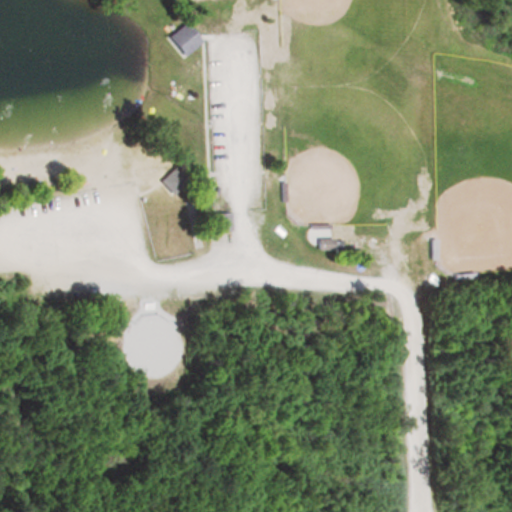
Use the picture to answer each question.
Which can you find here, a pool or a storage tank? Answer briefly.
storage tank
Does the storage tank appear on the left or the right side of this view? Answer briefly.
left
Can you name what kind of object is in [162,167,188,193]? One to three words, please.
building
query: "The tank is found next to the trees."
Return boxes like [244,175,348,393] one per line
[124,317,184,377]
